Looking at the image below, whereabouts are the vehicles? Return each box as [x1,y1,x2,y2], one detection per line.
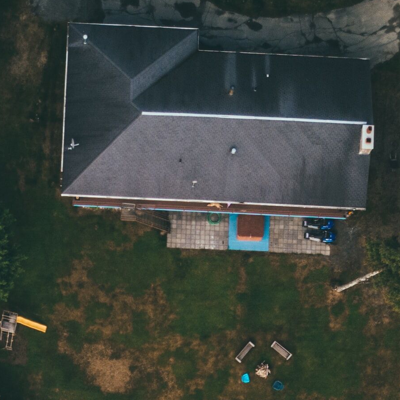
[301,218,335,232]
[304,230,337,245]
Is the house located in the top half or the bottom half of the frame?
top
